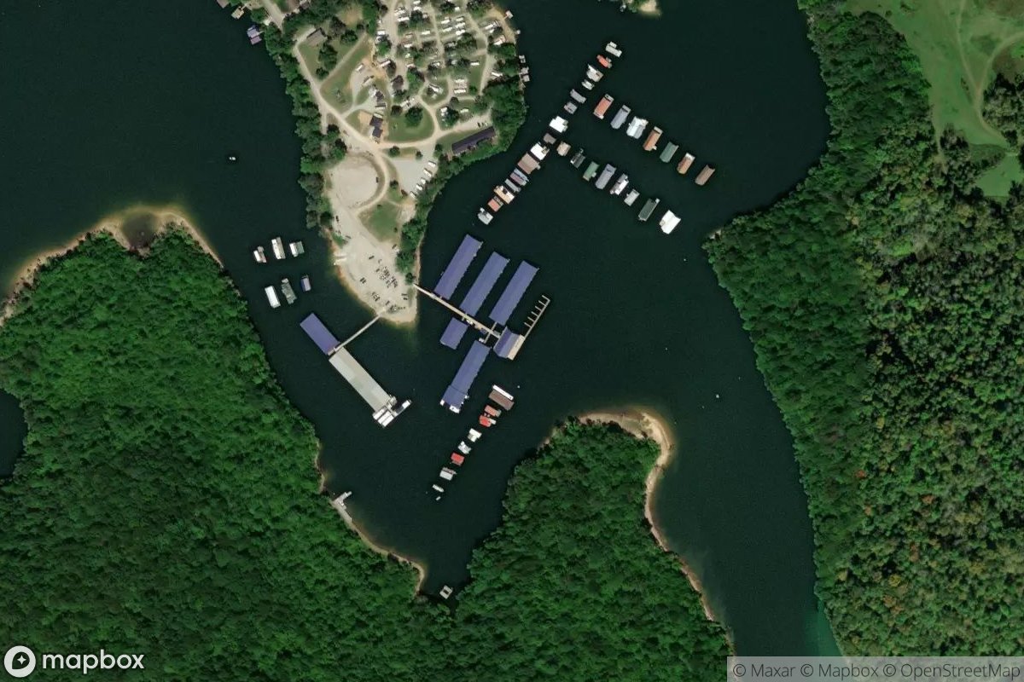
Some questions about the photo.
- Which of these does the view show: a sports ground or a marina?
marina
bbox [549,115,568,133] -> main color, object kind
white boat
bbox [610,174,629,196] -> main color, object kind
white boat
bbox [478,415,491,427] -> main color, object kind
red boat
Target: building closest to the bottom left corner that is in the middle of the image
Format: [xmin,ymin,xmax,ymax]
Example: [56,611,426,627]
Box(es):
[493,327,525,361]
